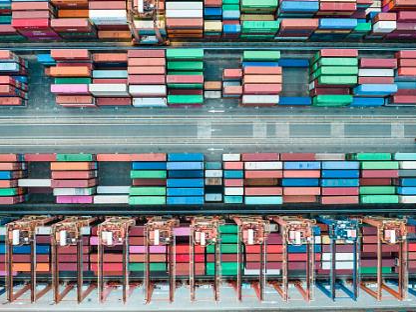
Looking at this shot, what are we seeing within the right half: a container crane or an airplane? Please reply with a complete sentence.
The feature located within the right half is a container crane.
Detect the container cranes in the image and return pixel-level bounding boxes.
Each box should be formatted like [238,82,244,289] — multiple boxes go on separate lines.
[53,213,106,304]
[267,213,319,304]
[7,213,65,304]
[186,213,226,304]
[127,0,171,46]
[145,213,186,304]
[99,213,145,304]
[226,213,273,304]
[310,213,366,307]
[348,213,412,304]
